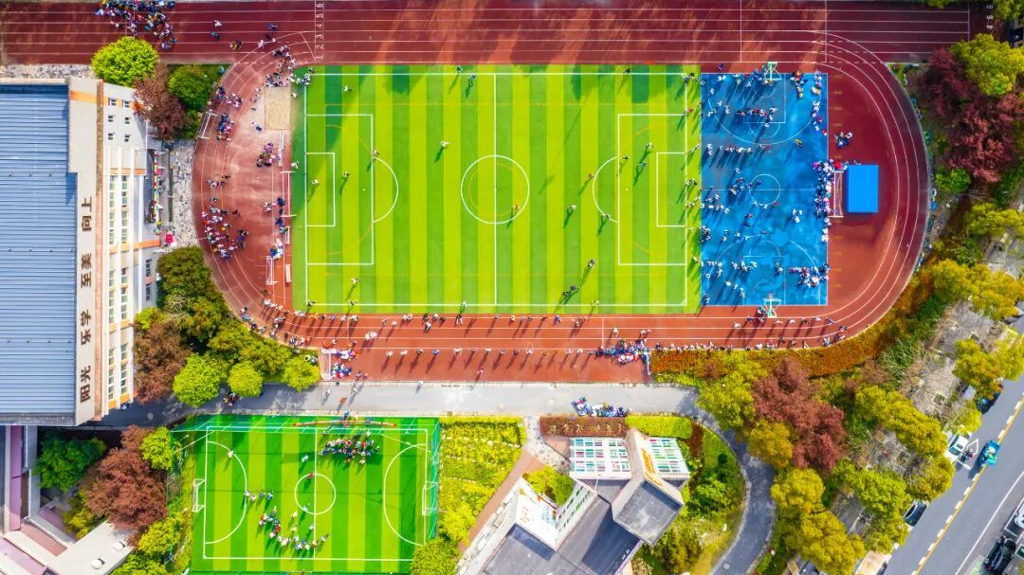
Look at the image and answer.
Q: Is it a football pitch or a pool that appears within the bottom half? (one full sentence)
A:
The feature located within the bottom half is a football pitch.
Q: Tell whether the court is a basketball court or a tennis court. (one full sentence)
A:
In the photo, the court shows up as a basketball court.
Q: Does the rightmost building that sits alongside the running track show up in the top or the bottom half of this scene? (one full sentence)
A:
Seen from above, the rightmost building that sits alongside the running track lies in the bottom half of the view.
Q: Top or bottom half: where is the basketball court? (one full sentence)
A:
You can find the basketball court in the top half.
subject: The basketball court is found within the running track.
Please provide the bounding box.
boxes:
[701,72,828,307]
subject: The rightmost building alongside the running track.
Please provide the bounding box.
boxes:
[451,427,693,575]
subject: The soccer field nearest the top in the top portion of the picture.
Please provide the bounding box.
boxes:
[292,64,701,314]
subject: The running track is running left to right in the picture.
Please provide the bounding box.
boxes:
[0,0,1008,382]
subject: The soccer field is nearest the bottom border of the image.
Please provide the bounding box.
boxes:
[169,418,438,575]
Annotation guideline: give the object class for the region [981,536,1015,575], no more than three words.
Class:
car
